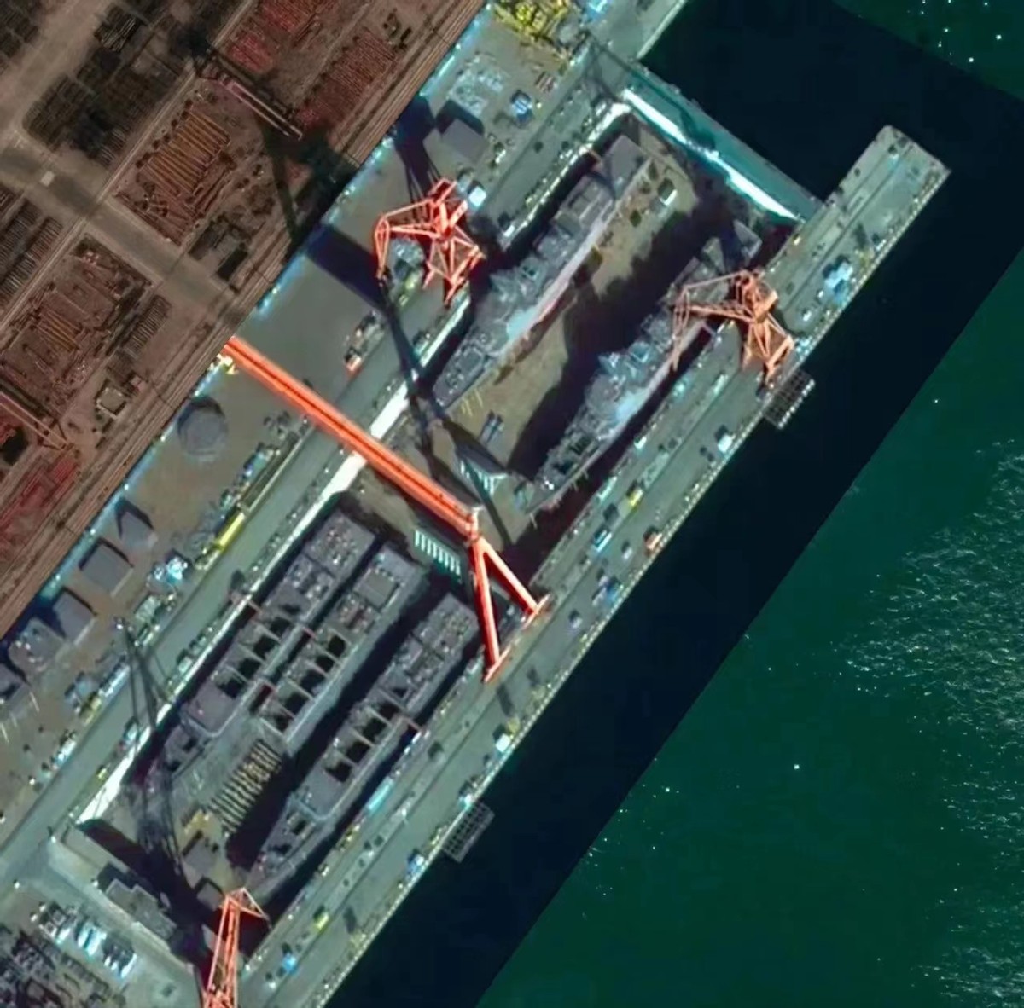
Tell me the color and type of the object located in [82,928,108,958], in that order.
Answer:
white truck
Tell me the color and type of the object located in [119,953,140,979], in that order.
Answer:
white truck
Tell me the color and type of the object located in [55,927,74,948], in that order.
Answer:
white vehicle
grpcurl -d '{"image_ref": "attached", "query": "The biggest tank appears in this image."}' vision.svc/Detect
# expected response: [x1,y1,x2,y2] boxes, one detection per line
[182,409,228,454]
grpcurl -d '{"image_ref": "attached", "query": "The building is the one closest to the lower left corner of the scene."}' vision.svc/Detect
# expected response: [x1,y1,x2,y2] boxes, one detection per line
[105,880,180,945]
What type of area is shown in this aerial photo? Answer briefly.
port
